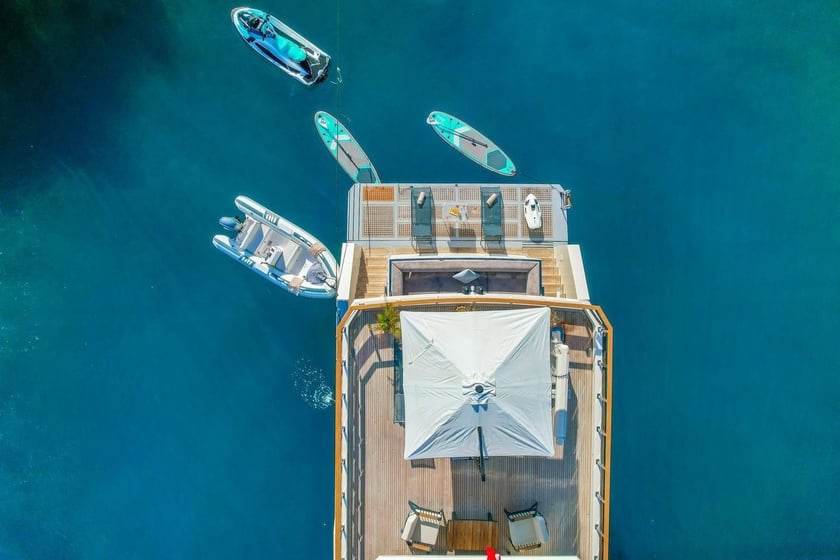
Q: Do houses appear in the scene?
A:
No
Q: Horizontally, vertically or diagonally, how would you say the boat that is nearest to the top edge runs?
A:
diagonally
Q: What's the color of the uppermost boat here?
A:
blue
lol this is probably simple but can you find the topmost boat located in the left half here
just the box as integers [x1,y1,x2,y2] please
[229,4,329,85]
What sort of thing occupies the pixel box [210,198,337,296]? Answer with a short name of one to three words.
boat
